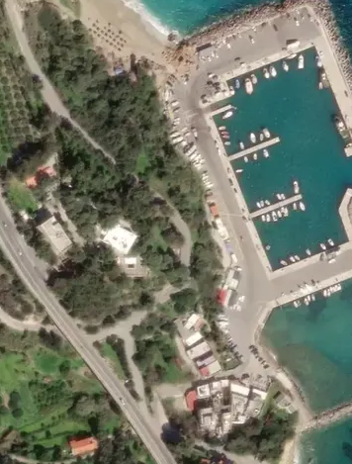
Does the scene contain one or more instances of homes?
Yes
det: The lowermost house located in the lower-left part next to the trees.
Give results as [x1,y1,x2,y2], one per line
[68,438,98,458]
